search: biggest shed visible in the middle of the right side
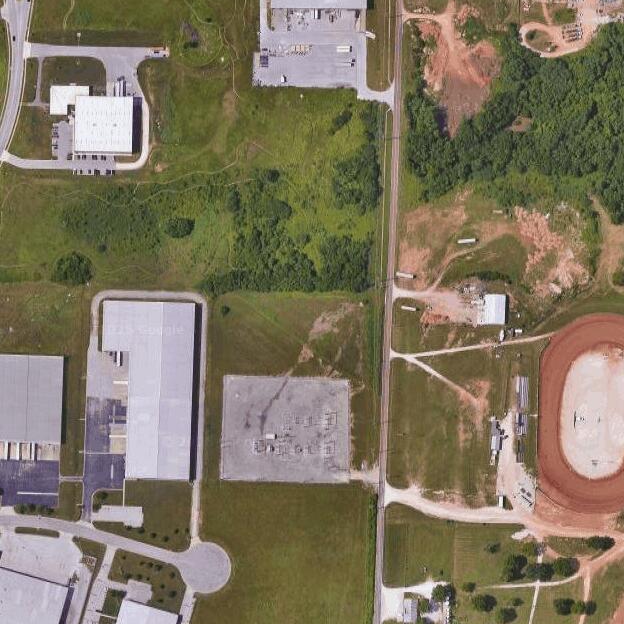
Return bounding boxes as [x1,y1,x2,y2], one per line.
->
[483,294,506,325]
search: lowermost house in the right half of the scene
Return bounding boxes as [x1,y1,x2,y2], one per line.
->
[403,599,418,624]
